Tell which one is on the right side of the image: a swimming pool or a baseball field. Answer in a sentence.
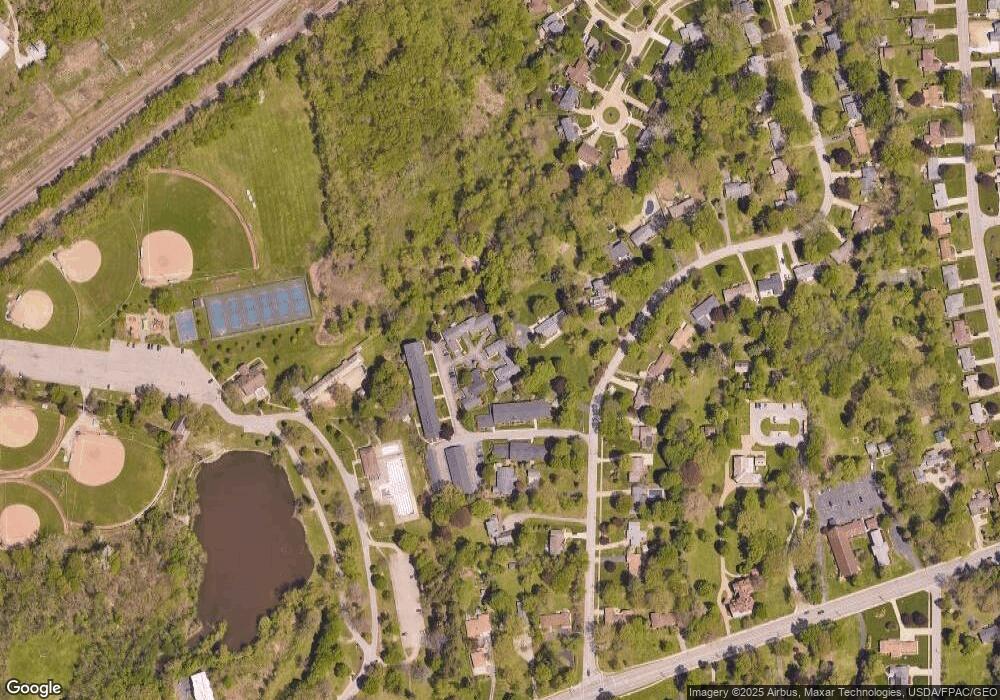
It is a swimming pool that can be seen on the right side of the image.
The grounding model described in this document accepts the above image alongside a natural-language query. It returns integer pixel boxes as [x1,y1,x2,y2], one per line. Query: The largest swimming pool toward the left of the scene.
[369,440,421,523]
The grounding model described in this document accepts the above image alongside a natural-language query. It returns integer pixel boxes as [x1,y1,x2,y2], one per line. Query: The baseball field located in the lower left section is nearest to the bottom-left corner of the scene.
[0,479,66,549]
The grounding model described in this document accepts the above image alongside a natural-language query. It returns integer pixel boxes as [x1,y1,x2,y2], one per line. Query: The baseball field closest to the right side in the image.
[140,168,257,288]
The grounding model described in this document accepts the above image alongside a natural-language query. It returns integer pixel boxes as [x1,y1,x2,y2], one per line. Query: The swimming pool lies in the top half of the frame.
[642,191,662,217]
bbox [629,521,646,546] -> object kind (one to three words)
house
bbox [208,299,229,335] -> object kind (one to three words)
tennis court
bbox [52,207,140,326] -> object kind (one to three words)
baseball field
